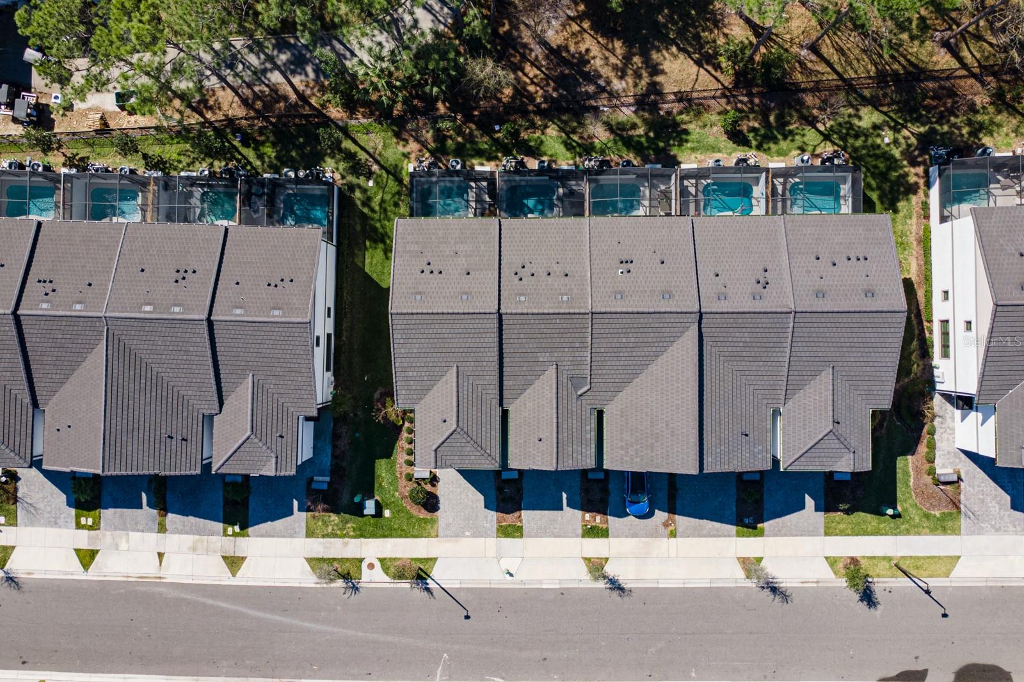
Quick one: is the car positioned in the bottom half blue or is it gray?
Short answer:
blue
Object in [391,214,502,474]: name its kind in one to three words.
house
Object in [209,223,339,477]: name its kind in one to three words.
house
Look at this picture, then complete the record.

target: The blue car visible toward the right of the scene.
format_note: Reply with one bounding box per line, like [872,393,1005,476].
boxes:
[625,475,654,518]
